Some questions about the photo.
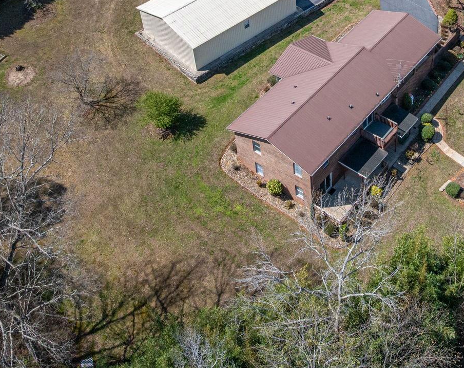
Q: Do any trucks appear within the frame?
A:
No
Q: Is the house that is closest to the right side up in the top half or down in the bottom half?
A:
top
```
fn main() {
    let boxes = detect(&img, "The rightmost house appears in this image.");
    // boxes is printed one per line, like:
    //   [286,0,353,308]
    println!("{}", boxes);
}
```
[226,10,442,205]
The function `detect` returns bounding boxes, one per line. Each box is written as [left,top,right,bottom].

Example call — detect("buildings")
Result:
[226,10,442,205]
[136,0,298,71]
